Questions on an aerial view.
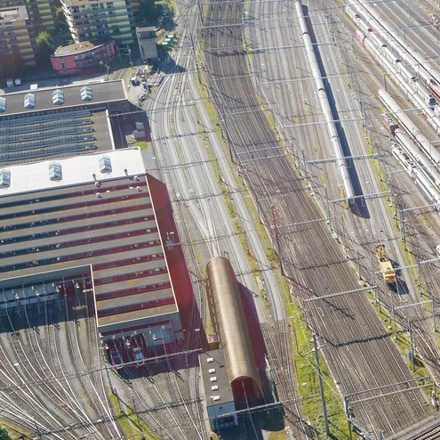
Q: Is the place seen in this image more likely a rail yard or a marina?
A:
rail yard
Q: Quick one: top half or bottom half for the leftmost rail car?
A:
bottom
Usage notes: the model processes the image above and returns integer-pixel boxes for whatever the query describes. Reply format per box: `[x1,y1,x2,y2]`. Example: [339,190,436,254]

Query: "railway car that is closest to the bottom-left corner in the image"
[104,345,124,375]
